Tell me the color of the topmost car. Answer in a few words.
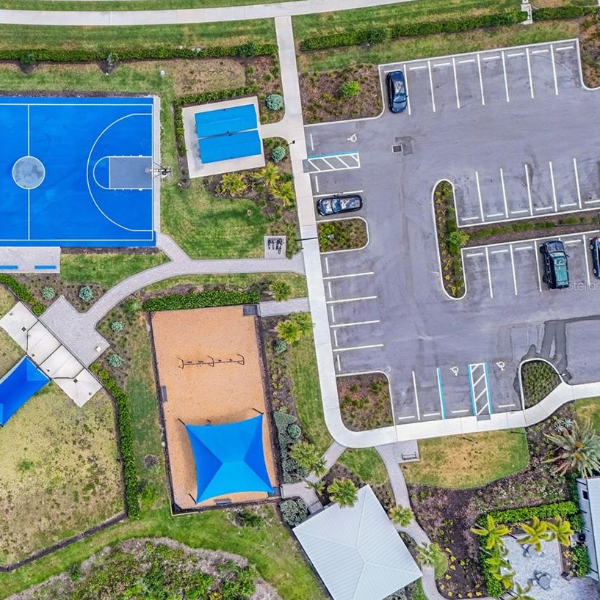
blue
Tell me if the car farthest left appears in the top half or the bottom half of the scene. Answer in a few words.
top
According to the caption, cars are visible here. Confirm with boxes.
[539,242,570,289]
[587,237,600,278]
[383,69,410,115]
[315,194,363,216]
